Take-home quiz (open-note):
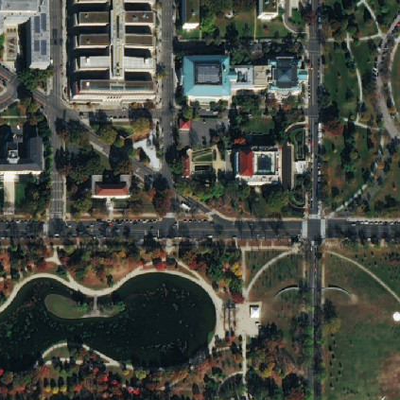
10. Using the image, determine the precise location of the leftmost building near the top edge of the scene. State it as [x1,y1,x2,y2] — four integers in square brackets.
[0,0,51,67]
